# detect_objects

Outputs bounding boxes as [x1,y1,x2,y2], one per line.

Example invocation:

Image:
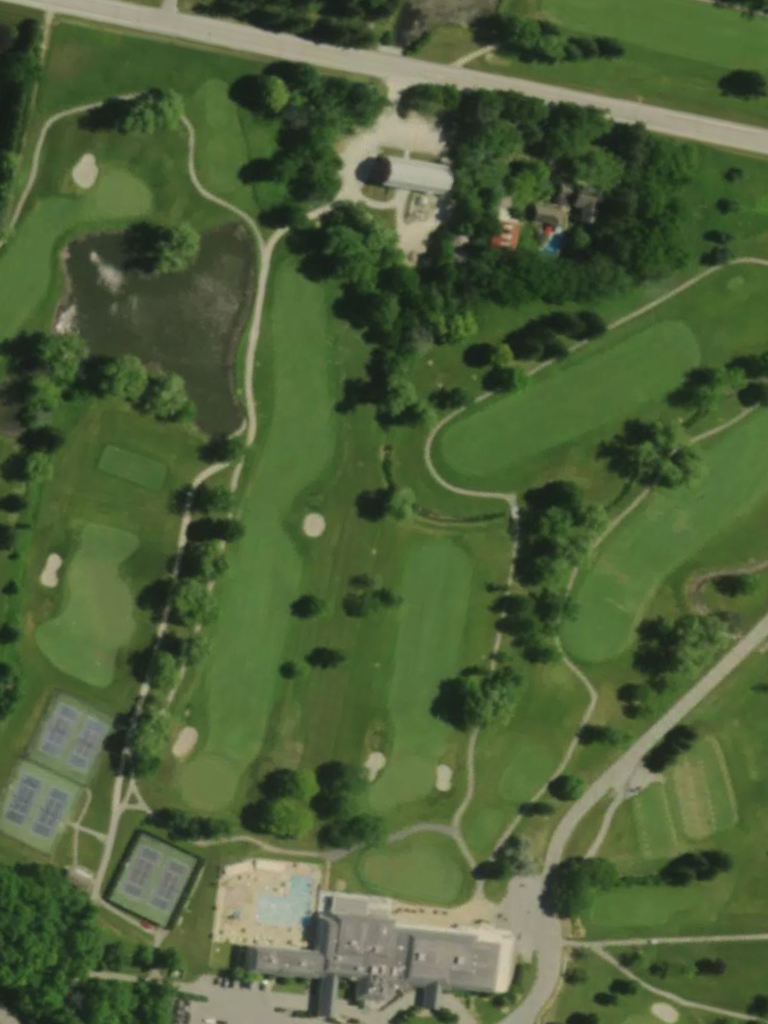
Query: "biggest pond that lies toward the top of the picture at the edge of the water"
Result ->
[57,223,253,438]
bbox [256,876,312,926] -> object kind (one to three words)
swimming pool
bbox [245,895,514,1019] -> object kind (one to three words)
building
